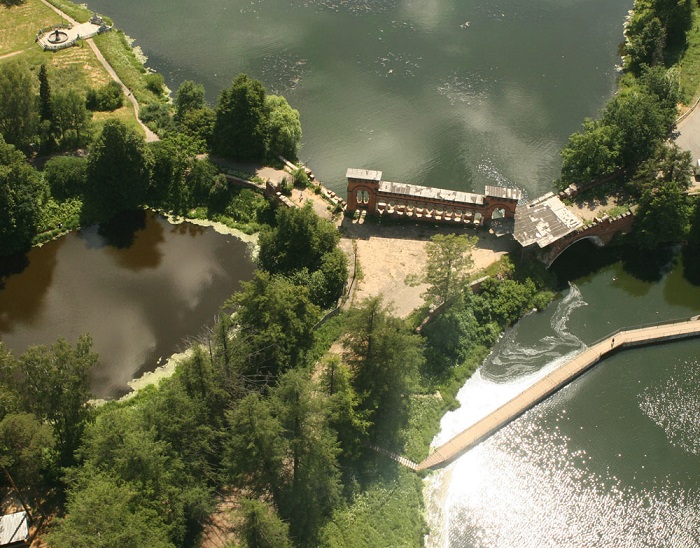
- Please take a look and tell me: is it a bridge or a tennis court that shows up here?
bridge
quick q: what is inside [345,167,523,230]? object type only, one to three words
building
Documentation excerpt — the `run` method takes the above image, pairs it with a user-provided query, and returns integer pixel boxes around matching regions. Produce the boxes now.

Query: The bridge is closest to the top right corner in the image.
[504,176,644,268]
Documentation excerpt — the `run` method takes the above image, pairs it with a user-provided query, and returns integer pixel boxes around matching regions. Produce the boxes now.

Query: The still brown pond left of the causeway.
[0,210,249,409]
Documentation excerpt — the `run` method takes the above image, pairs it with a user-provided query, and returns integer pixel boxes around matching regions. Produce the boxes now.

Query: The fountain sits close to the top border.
[46,26,68,44]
